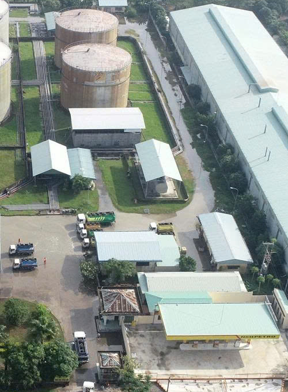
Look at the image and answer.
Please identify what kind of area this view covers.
industrial area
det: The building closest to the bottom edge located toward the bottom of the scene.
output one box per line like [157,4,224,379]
[97,350,122,379]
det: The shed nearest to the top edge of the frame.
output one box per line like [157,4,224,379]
[98,0,127,14]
